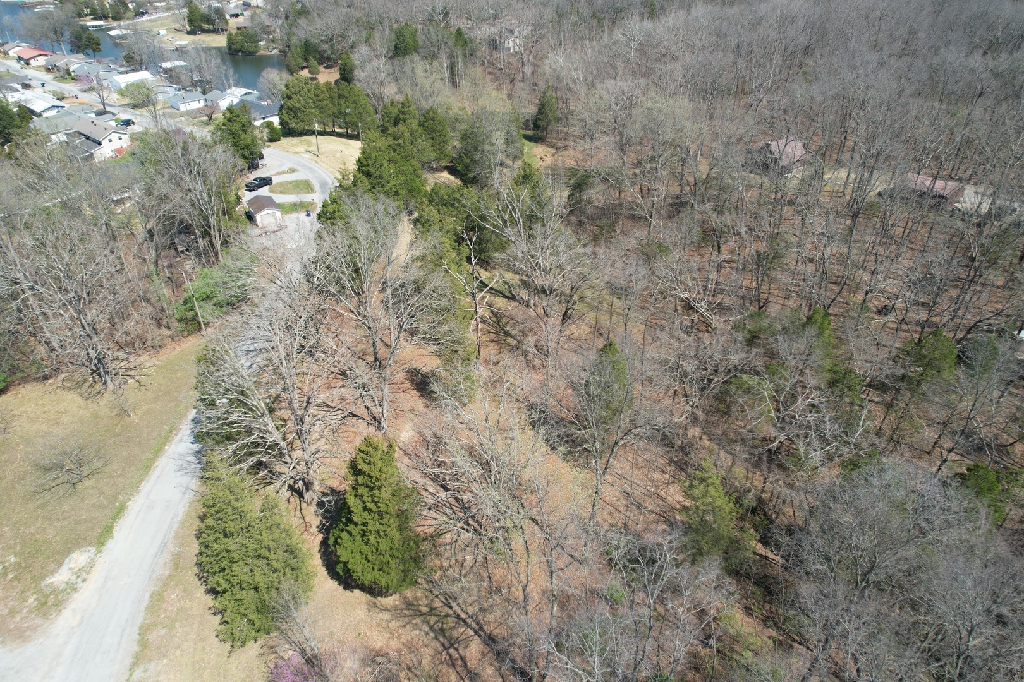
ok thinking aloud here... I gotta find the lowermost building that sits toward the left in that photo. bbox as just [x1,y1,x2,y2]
[247,193,284,232]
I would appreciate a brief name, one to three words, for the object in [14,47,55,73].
house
